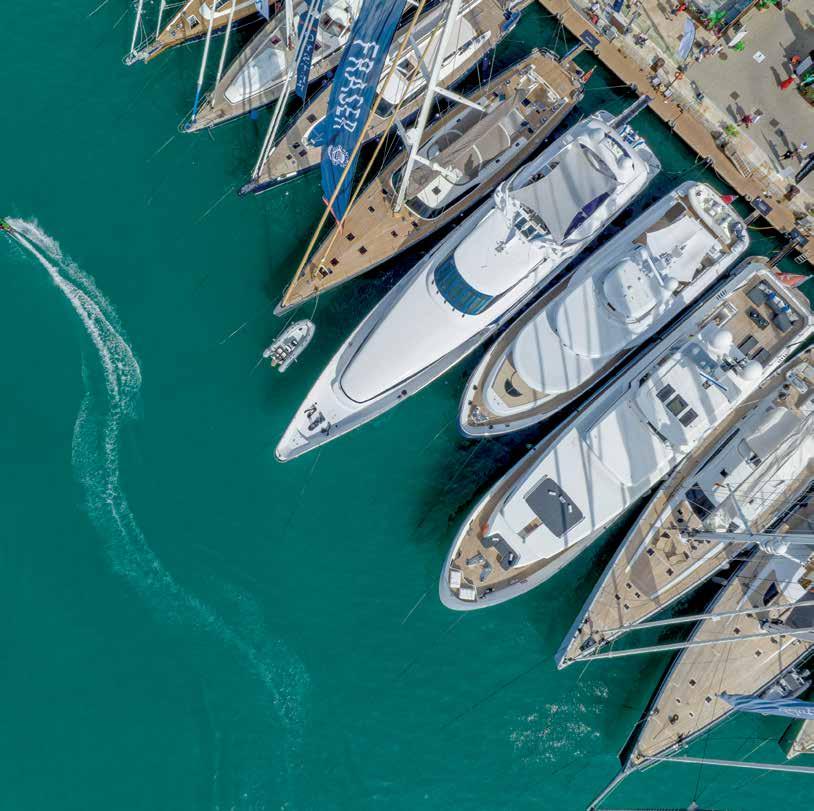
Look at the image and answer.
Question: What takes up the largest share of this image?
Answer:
water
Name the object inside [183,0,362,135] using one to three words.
boat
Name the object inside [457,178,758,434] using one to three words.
boat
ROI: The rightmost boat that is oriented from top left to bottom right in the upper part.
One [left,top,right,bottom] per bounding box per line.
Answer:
[692,186,746,253]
